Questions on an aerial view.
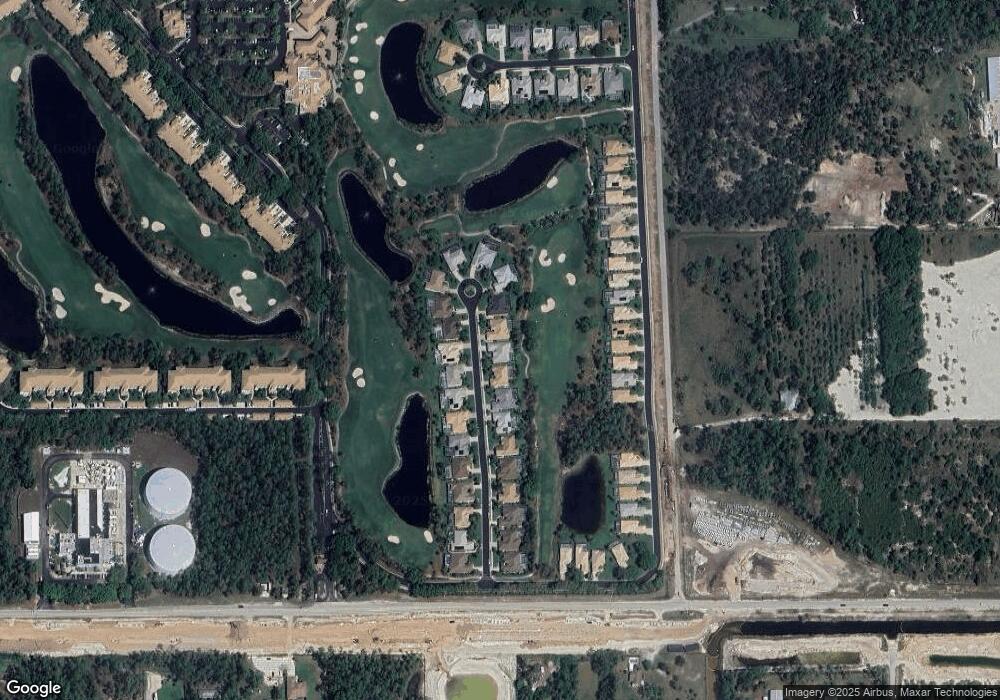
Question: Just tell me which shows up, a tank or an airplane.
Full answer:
I can see a tank in this picture.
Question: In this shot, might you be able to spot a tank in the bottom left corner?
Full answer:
Yes, a tank is visible in the bottom left corner.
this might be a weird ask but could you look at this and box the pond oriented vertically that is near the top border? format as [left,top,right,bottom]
[381,22,442,124]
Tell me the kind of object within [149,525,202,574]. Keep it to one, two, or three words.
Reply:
storage tank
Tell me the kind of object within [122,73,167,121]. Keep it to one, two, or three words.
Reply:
building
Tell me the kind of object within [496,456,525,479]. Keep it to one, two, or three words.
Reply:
house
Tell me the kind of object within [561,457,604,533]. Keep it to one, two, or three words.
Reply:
pond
